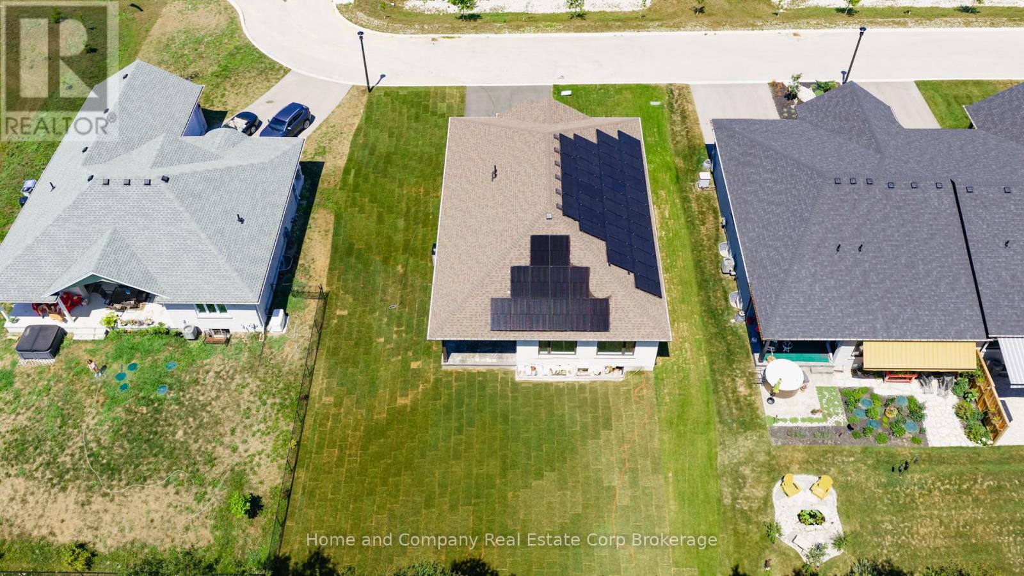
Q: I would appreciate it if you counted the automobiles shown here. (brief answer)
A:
2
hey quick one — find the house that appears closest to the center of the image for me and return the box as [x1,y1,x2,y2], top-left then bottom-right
[425,98,673,370]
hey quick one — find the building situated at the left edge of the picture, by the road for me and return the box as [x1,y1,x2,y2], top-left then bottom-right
[0,62,307,345]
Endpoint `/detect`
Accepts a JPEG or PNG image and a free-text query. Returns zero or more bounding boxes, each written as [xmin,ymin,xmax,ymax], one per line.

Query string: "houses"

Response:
[425,98,673,370]
[0,62,307,345]
[710,80,990,370]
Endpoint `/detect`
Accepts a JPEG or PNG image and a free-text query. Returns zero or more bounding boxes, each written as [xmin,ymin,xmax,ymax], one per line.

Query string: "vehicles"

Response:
[255,102,313,138]
[230,108,272,137]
